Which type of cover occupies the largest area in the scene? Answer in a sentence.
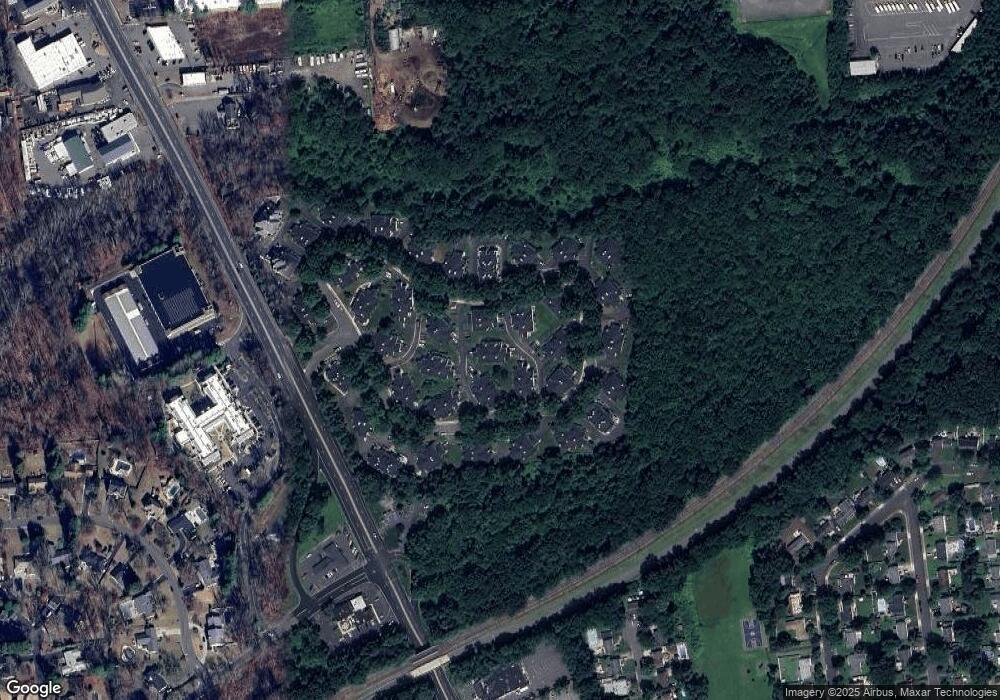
The scene is dominated by trees.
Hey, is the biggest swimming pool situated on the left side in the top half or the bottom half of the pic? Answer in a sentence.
The bottom half of the photo is where the biggest swimming pool situated on the left side is.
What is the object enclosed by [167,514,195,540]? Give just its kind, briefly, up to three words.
house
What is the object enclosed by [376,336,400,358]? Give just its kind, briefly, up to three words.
building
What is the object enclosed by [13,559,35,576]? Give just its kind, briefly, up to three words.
house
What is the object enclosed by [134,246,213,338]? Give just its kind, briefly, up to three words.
building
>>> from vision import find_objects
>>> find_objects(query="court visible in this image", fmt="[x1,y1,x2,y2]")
[740,615,764,651]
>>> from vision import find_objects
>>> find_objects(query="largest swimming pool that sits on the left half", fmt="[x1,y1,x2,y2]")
[109,455,135,476]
